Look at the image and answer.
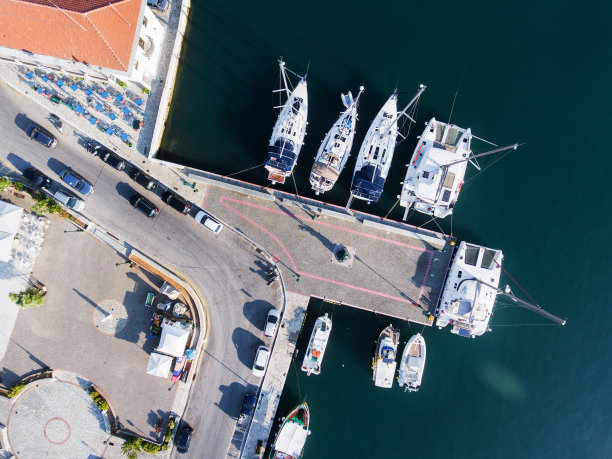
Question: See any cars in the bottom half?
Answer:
Yes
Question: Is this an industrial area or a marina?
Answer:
marina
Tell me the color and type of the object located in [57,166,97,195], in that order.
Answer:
blue car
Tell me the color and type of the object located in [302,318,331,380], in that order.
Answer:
white boat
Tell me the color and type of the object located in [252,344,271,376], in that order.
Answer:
white car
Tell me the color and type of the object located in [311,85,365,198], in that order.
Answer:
white boat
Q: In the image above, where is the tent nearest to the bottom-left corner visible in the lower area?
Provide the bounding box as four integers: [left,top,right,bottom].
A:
[146,347,176,378]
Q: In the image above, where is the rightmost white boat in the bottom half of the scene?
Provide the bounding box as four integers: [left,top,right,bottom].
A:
[436,241,568,339]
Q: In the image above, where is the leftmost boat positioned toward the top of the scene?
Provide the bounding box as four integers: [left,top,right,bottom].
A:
[262,59,311,186]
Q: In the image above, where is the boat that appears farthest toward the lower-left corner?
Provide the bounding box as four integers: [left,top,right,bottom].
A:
[270,400,311,459]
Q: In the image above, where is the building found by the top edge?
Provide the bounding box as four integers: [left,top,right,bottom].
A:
[0,0,165,94]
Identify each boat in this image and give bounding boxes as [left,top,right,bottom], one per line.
[341,92,353,109]
[262,59,311,186]
[370,326,398,394]
[311,85,365,198]
[436,241,568,339]
[349,83,428,204]
[302,318,331,380]
[397,335,425,394]
[270,400,311,459]
[399,117,521,216]
[415,202,437,217]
